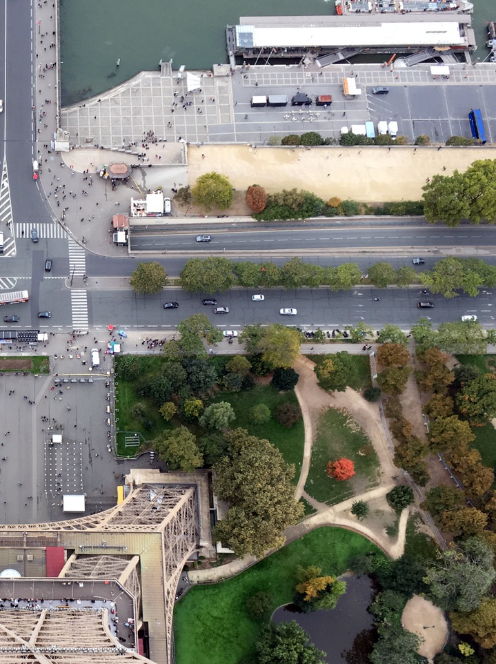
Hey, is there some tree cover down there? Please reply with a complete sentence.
Yes, there is tree cover in the image.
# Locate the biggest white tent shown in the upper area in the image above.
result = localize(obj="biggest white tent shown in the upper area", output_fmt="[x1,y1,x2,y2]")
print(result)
[146,193,165,218]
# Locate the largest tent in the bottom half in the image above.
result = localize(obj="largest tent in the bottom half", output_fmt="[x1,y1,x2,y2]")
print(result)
[64,495,85,511]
